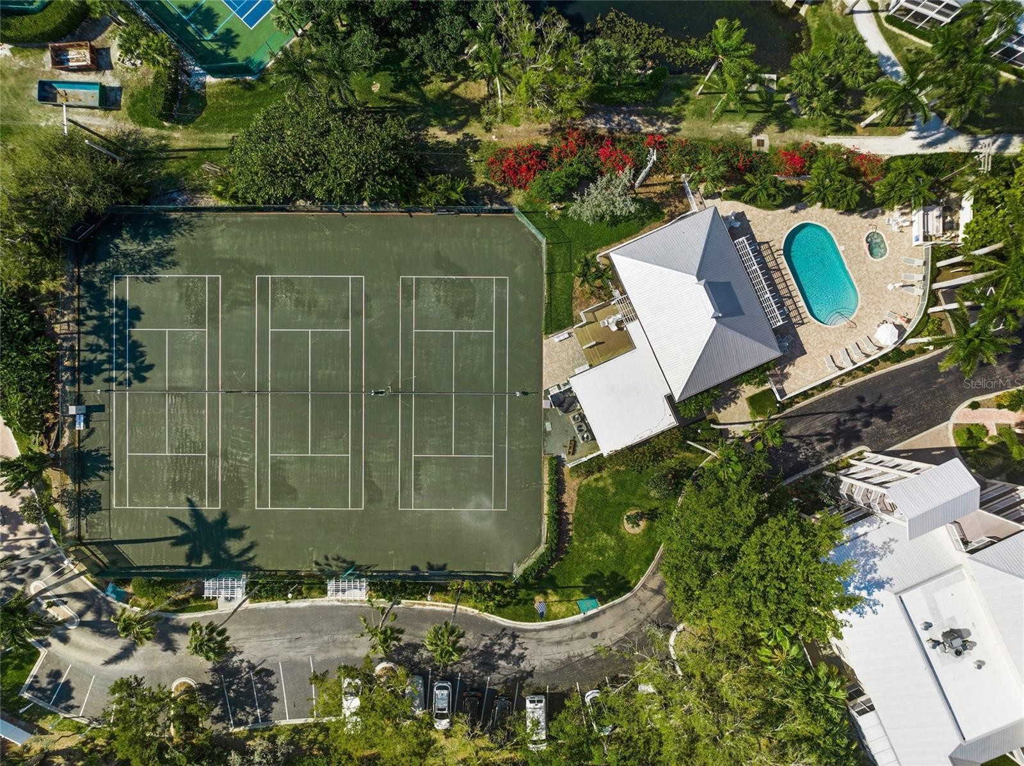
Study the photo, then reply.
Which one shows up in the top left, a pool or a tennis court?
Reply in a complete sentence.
It is a tennis court that can be seen in the top left.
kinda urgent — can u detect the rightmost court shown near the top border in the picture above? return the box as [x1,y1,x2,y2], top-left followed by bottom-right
[134,0,325,77]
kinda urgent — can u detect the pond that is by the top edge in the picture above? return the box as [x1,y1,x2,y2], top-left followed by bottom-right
[537,0,806,76]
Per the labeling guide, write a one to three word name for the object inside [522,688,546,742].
vehicle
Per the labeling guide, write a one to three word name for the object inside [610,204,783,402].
building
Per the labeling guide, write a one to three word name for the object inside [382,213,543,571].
tennis court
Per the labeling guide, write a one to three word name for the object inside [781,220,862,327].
swimming pool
